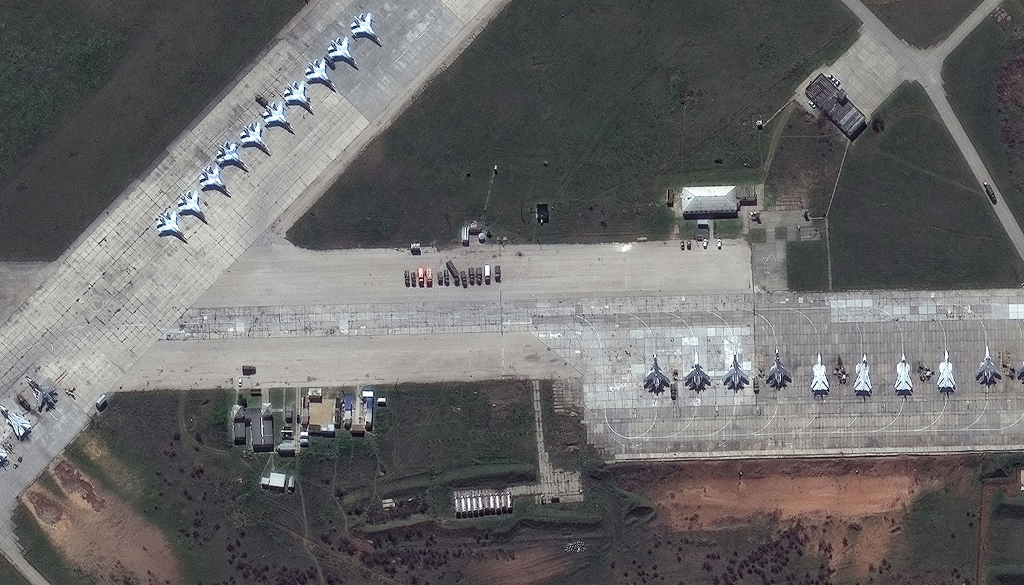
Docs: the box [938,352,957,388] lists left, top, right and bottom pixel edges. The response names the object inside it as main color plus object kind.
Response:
white airplane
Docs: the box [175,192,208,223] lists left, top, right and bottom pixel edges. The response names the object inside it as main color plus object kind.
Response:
white airplane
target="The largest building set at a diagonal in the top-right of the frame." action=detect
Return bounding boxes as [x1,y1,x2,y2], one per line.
[804,74,866,136]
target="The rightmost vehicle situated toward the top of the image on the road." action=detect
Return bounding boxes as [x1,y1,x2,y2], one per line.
[983,181,997,203]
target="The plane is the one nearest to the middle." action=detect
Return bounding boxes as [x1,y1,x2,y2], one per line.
[643,354,670,391]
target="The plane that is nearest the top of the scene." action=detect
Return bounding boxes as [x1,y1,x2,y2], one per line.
[349,11,381,42]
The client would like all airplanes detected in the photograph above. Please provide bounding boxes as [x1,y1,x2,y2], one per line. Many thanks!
[854,357,873,393]
[199,165,231,196]
[304,57,336,89]
[239,124,271,155]
[155,210,188,242]
[811,355,830,391]
[175,192,208,223]
[282,80,314,111]
[684,354,711,391]
[938,352,957,388]
[765,351,792,387]
[722,353,749,390]
[895,355,914,392]
[0,404,29,435]
[326,35,361,68]
[262,100,294,131]
[974,349,1001,385]
[349,11,381,42]
[643,354,670,391]
[216,139,249,171]
[28,379,61,412]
